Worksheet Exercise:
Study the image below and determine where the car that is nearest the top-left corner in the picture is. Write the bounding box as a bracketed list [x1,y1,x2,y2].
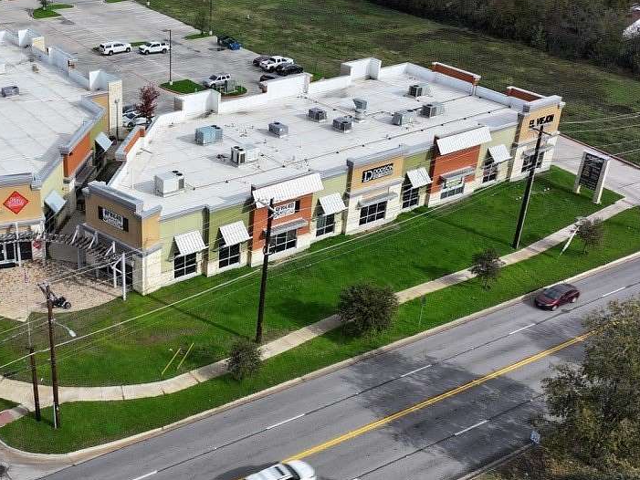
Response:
[97,40,130,55]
